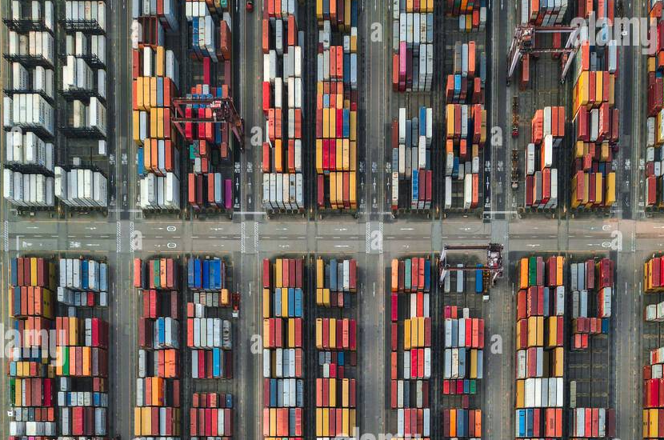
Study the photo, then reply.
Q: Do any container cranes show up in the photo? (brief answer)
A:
Yes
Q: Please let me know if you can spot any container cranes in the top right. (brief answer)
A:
Yes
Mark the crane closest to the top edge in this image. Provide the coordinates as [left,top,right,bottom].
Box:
[506,26,578,80]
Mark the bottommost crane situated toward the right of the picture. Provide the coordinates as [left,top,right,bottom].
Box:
[437,246,506,285]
